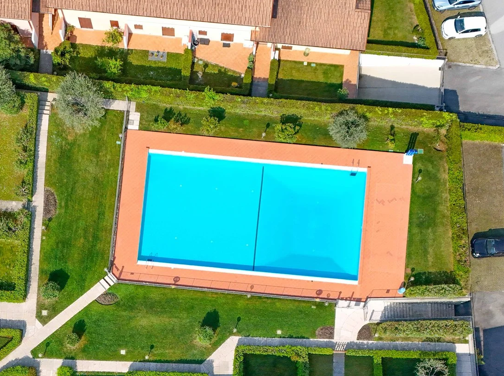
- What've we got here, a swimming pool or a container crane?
swimming pool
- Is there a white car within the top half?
Yes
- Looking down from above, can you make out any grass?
Yes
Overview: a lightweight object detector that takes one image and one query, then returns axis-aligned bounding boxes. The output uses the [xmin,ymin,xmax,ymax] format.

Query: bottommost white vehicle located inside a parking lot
[440,16,489,42]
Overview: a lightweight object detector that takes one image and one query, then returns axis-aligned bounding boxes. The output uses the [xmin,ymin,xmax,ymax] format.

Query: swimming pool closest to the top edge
[135,147,369,287]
